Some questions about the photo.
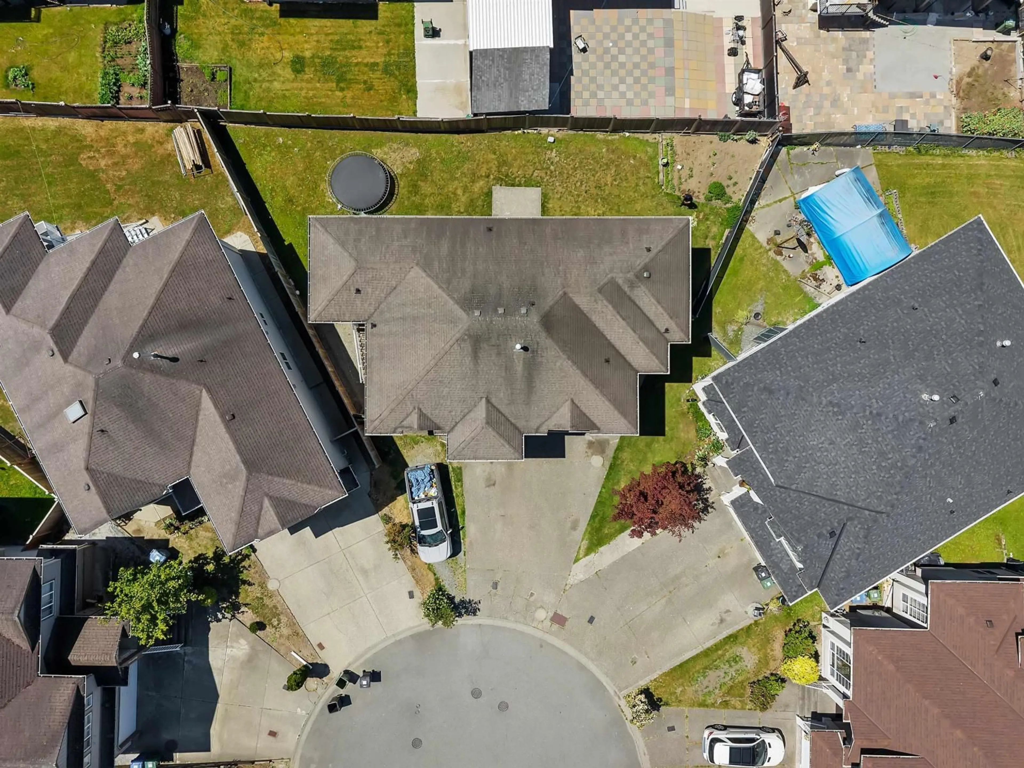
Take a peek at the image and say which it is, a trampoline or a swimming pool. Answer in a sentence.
Of the two, only a trampoline appears.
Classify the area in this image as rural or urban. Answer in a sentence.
The area shown here is urban.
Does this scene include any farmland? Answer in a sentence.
No, the scene doesn't show any farmland.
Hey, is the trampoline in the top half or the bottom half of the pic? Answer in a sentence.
The trampoline is in the top half of the image.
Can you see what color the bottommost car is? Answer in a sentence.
In this view, the bottommost car is white.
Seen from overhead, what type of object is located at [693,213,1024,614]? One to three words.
house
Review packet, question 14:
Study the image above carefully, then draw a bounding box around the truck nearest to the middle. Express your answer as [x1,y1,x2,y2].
[404,461,454,565]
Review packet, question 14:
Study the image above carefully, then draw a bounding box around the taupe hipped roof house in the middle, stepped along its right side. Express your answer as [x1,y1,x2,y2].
[306,214,694,464]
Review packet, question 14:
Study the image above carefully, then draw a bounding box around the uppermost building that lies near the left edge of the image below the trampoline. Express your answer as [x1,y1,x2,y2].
[0,208,358,557]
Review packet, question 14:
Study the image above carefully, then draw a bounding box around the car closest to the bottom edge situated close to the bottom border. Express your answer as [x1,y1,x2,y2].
[702,724,787,768]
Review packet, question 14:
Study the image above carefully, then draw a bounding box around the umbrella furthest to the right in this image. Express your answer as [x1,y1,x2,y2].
[778,233,809,254]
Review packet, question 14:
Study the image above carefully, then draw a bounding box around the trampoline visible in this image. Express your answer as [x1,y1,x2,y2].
[326,150,391,214]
